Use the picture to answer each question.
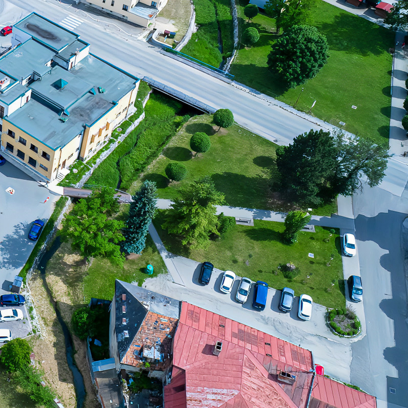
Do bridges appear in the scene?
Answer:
Yes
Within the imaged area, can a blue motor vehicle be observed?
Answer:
Yes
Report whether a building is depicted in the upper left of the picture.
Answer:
Yes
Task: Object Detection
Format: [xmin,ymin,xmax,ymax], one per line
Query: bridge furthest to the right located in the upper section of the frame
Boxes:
[142,36,236,113]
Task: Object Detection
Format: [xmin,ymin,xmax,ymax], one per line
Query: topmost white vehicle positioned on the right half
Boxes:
[341,233,358,259]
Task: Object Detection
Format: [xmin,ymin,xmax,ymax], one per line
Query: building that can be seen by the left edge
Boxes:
[0,10,140,183]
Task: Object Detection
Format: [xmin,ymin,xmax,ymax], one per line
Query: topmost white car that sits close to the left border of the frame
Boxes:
[0,308,25,324]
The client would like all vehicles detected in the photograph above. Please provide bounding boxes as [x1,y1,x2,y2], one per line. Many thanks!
[28,217,45,243]
[235,276,252,304]
[218,268,237,296]
[279,286,295,313]
[0,328,13,343]
[341,233,358,259]
[0,308,25,324]
[0,154,8,165]
[252,280,272,312]
[198,259,214,287]
[0,25,13,36]
[0,293,27,309]
[346,274,366,303]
